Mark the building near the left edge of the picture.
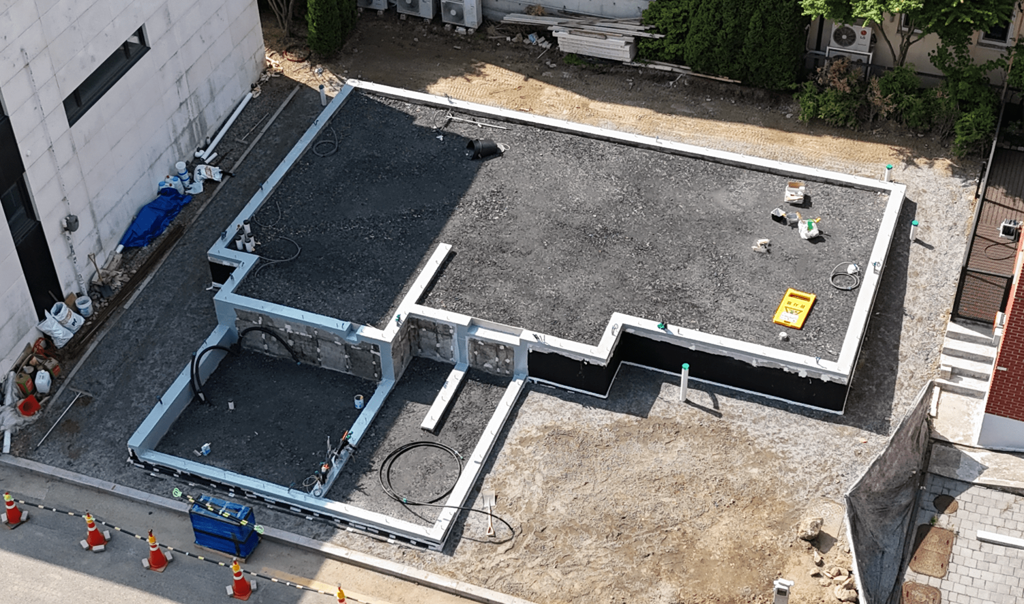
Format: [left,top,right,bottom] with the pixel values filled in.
[0,0,267,373]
